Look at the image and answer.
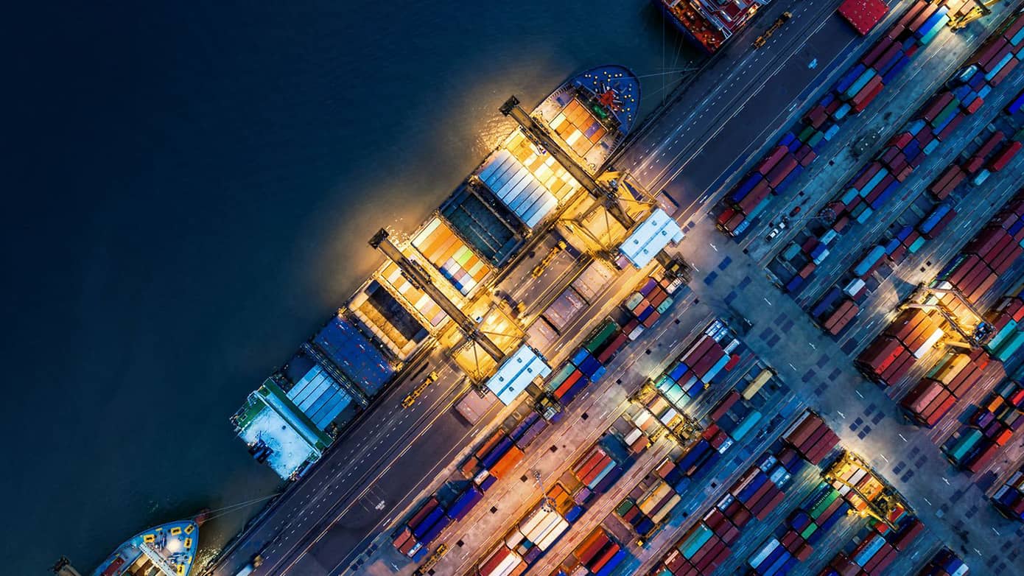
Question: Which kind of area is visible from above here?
port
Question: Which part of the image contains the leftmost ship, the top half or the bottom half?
bottom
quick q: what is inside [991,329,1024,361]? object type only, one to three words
shipping container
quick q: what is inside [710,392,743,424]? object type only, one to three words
shipping container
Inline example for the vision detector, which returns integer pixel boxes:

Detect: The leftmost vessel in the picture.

[94,500,219,576]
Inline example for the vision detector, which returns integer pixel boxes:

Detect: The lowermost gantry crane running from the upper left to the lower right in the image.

[815,446,912,529]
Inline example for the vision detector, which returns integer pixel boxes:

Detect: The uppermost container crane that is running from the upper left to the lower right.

[499,89,686,274]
